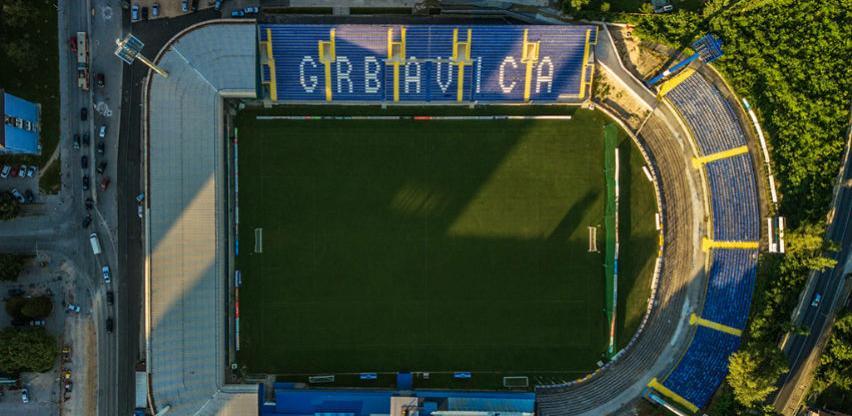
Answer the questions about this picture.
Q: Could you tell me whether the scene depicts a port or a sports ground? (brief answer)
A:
sports ground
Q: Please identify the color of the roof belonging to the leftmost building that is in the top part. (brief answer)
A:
blue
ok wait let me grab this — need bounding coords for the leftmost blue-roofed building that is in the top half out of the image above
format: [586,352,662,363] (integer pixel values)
[0,88,42,155]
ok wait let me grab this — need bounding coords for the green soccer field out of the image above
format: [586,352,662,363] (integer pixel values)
[238,101,662,391]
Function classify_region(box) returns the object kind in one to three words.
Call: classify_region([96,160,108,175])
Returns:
vehicle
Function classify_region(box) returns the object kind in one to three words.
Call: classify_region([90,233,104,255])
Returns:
vehicle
